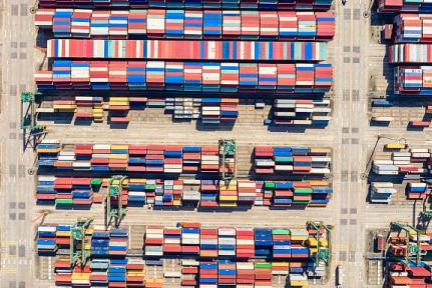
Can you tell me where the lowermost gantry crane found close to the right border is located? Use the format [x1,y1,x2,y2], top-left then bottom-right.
[387,218,421,268]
